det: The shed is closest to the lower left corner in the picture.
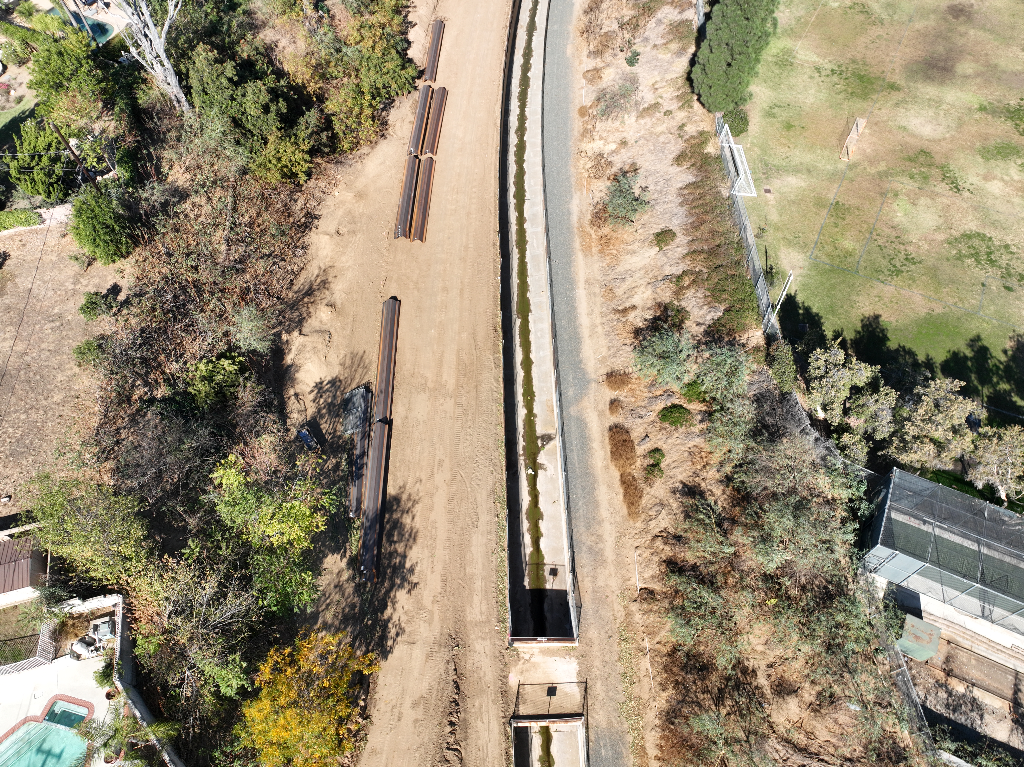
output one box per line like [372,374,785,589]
[0,532,49,598]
